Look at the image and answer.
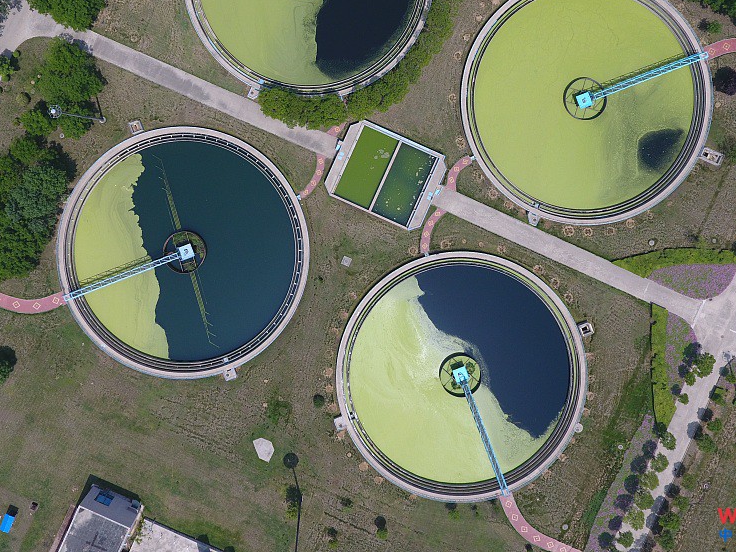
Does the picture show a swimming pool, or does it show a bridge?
bridge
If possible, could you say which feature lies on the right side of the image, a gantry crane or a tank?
tank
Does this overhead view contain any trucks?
No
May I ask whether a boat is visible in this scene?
No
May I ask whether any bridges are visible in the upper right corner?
Yes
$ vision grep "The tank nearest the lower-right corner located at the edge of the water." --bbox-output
[335,250,588,503]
